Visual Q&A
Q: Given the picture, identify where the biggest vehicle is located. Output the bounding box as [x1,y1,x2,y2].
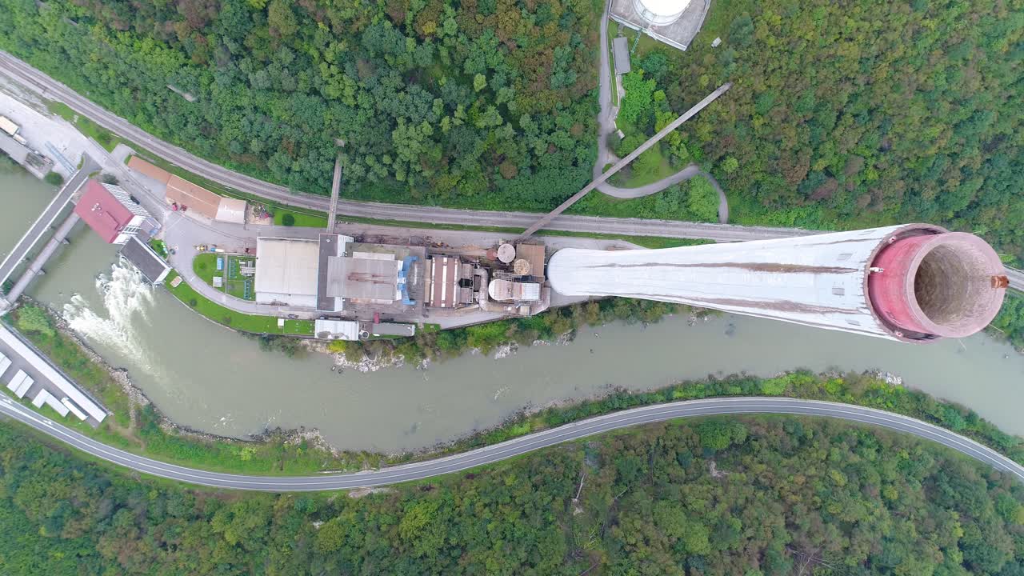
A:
[63,398,91,419]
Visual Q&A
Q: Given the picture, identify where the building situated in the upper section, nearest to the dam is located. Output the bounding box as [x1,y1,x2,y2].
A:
[75,179,147,244]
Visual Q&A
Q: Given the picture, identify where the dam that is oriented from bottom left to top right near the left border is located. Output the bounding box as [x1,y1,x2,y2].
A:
[0,210,87,320]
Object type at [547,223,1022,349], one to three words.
chimney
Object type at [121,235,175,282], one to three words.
house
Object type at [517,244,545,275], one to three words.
building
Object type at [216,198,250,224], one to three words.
shed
